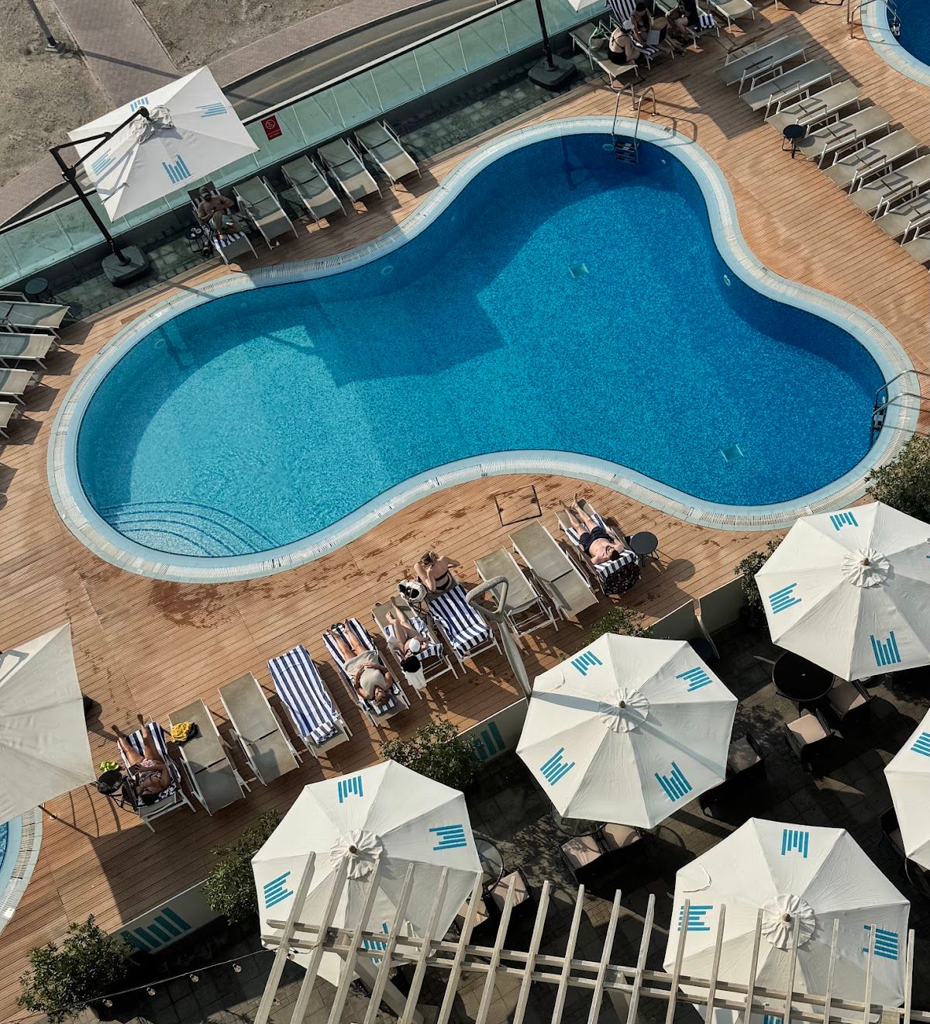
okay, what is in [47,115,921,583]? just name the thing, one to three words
swimming pool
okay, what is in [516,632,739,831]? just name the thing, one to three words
umbrella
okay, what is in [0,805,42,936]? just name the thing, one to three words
swimming pool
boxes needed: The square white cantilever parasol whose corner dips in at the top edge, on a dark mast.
[527,0,618,85]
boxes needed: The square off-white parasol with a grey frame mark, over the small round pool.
[0,624,94,820]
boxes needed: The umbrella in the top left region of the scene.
[56,70,264,278]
